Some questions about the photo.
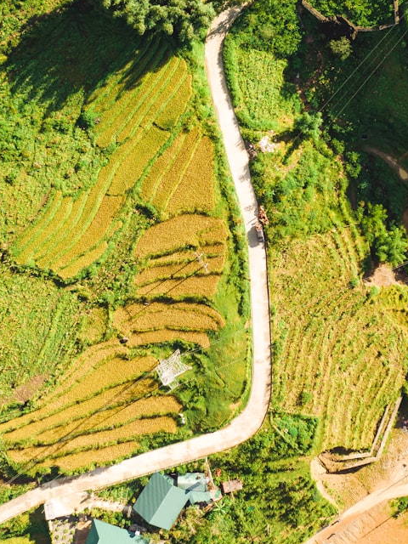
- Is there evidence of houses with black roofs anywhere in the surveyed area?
No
